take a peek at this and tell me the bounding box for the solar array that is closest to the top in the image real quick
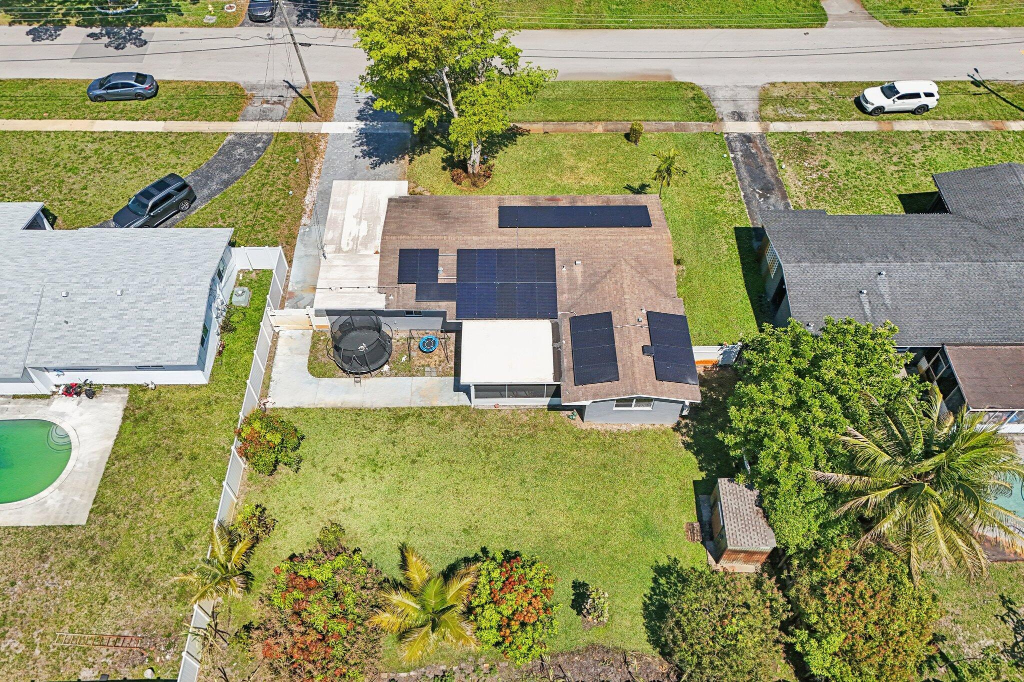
[497,206,653,227]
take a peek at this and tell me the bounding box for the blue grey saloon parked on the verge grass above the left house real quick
[84,69,159,102]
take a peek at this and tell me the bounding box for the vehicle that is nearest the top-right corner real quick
[855,77,941,116]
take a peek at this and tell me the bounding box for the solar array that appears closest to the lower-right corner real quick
[646,312,699,385]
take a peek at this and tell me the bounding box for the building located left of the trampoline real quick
[0,201,246,393]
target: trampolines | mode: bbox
[323,312,399,385]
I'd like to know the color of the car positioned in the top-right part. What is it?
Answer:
white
